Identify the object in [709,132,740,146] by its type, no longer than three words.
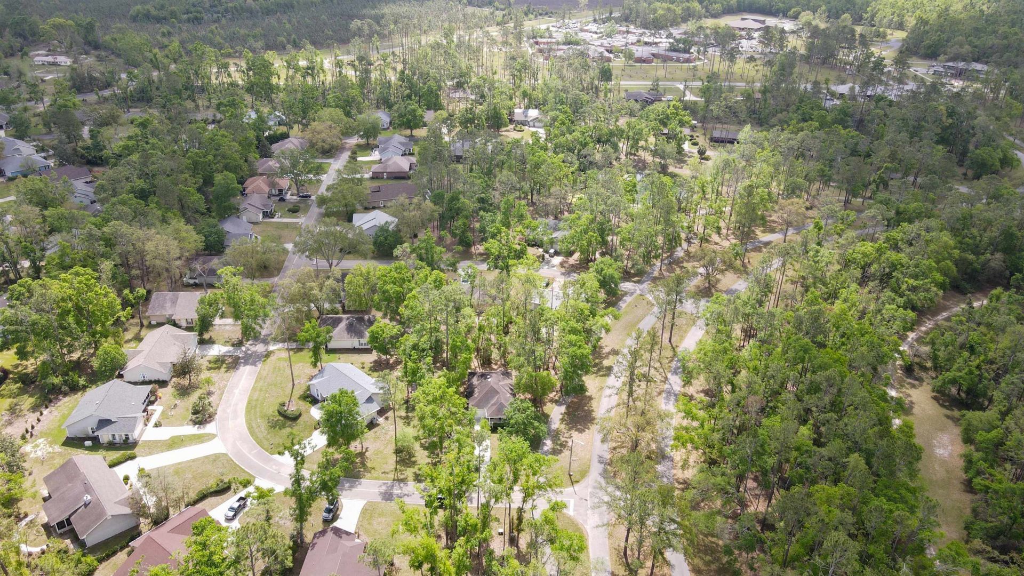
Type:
house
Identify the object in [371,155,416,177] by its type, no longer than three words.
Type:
house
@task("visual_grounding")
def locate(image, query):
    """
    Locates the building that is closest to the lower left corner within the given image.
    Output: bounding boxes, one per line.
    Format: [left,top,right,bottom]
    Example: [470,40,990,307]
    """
[40,452,144,549]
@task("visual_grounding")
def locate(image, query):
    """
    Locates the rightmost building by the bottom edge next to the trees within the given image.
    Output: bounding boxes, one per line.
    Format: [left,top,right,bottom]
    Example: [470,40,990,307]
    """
[297,526,381,576]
